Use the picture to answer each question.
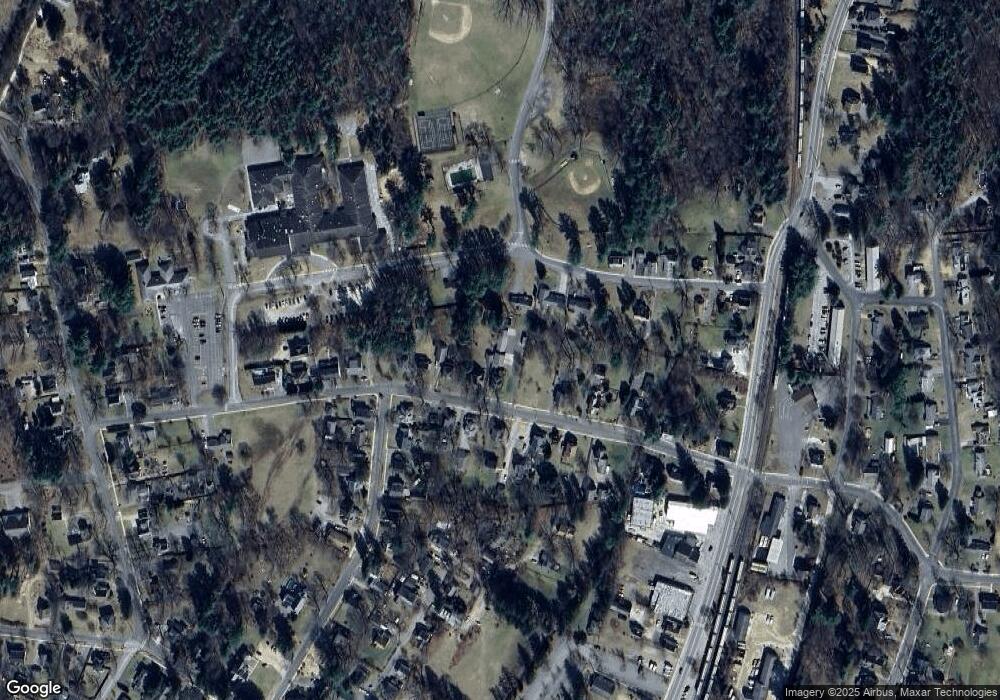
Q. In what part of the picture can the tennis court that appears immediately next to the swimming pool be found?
top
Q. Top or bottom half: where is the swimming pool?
top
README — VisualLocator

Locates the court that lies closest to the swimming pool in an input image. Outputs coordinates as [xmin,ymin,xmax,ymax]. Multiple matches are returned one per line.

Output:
[411,107,455,152]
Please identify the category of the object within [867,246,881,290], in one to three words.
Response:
building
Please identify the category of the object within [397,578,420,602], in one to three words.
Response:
house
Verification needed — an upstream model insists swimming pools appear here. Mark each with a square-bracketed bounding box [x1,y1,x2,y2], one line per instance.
[444,157,483,189]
